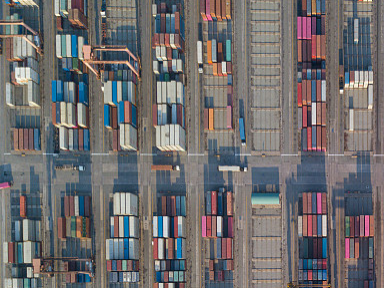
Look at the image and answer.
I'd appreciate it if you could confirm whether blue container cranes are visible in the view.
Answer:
No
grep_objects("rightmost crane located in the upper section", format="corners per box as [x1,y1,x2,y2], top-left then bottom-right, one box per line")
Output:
[80,46,146,77]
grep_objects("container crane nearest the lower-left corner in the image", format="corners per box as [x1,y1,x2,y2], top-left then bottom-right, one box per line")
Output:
[28,256,99,277]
